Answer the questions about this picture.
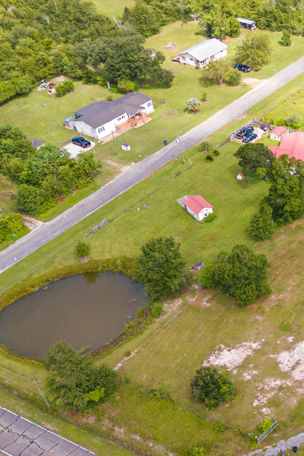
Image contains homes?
Yes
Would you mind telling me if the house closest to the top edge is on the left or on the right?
right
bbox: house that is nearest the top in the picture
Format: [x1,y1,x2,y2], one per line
[177,40,228,67]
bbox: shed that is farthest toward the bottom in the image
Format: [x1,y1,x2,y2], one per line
[178,195,214,221]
